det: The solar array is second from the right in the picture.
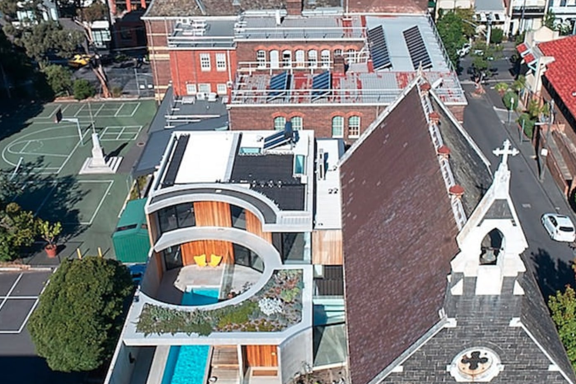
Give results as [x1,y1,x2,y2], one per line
[369,26,392,69]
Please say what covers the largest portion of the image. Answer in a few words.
buildings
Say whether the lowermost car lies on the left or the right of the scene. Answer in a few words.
right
